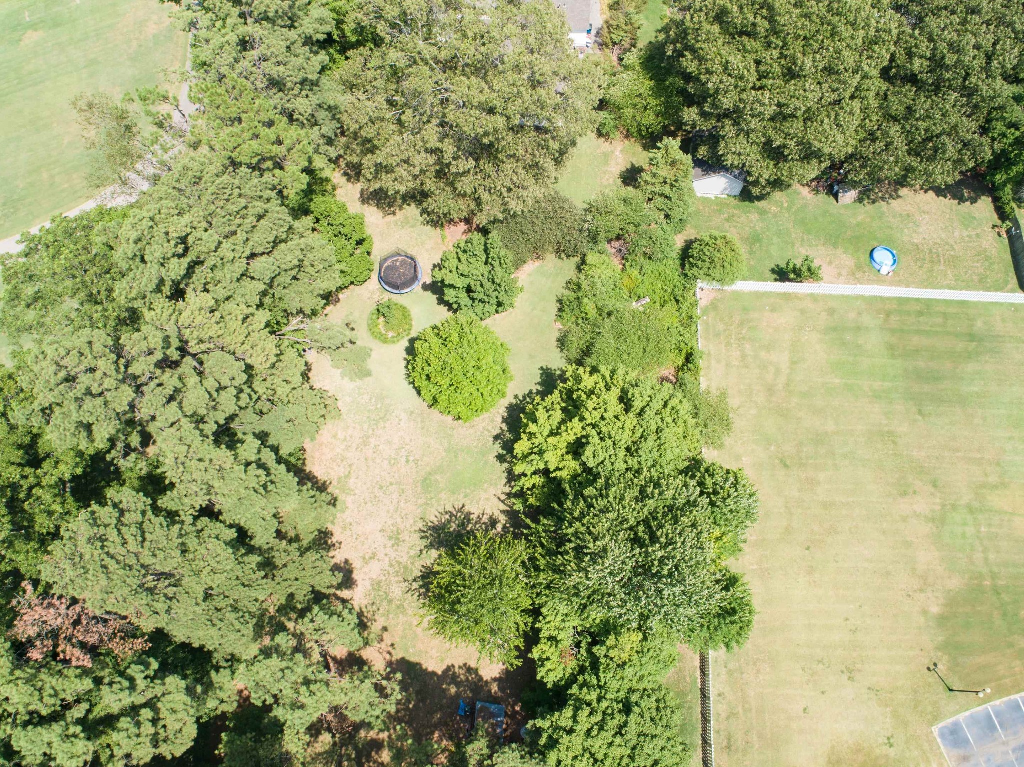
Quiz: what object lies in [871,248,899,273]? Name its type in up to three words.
swimming pool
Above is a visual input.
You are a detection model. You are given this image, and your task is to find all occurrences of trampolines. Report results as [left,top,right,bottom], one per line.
[379,248,424,299]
